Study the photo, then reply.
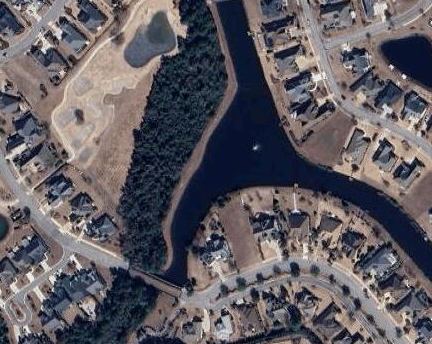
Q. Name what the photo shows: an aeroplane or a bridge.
bridge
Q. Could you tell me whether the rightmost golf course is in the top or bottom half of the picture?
top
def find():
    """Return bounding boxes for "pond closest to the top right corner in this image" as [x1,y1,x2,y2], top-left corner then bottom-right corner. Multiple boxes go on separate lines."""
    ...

[382,34,432,87]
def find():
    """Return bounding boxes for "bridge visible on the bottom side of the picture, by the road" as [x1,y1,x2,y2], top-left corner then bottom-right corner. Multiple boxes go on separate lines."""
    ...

[125,260,184,297]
